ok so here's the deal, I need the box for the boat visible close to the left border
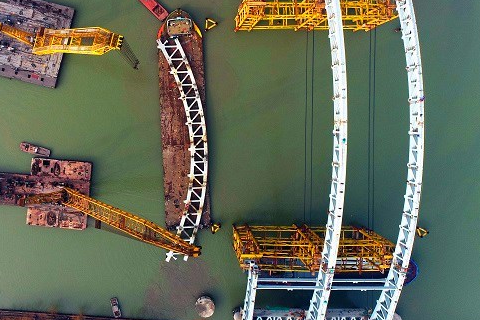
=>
[19,141,51,156]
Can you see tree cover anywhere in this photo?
No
